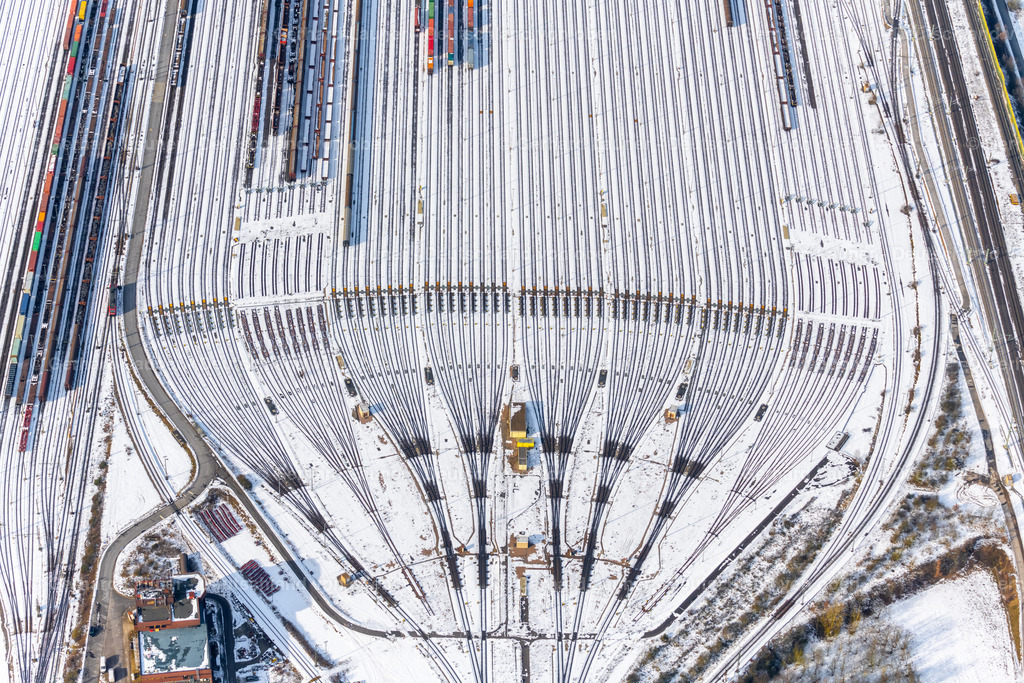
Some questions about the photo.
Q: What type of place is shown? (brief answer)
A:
rail yard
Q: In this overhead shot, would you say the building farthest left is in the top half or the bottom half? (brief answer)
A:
bottom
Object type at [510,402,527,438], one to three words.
building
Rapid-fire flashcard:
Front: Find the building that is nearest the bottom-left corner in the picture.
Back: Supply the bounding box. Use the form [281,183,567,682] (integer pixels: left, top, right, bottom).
[136,554,215,683]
